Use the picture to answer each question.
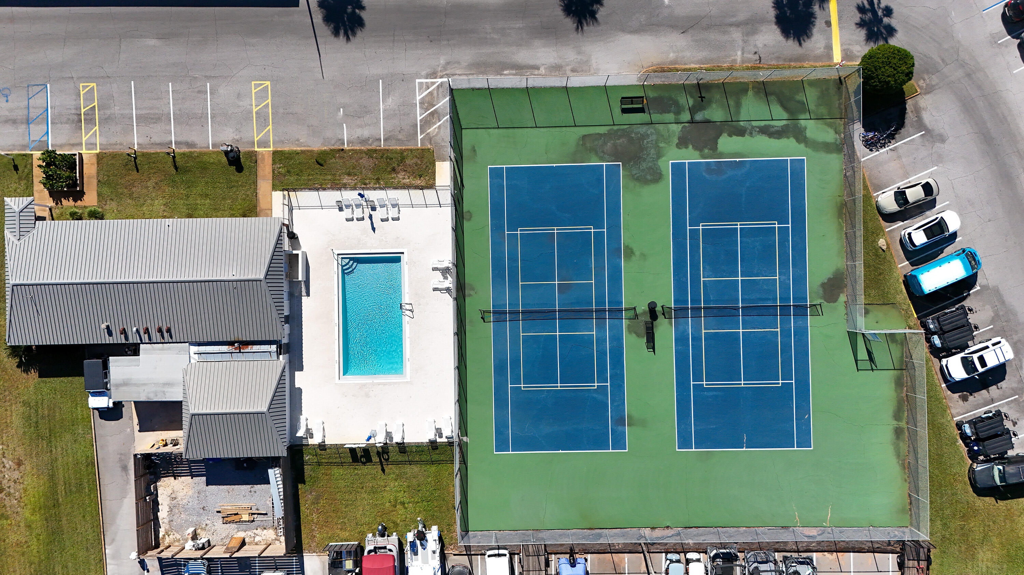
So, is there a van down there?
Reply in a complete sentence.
Yes, I can see a van in this picture.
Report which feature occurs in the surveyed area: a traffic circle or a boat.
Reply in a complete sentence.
Visible in the photo is a boat.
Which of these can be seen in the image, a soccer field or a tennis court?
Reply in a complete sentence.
I can see a tennis court in this picture.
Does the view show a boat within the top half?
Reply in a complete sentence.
No, I can find no boat within the top half.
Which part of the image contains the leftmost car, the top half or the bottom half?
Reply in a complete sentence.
It is in the bottom half that the leftmost car appears.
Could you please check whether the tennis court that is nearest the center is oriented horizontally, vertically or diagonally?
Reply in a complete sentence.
The tennis court that is nearest the center is oriented vertically.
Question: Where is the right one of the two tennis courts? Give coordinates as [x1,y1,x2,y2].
[670,156,813,452]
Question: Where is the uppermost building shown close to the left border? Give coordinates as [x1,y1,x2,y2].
[0,196,290,345]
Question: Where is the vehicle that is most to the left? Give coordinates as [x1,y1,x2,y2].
[82,357,116,410]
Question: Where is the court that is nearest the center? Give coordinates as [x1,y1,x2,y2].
[488,162,628,454]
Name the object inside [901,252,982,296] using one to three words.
van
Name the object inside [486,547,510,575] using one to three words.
vehicle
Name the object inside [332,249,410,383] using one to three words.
swimming pool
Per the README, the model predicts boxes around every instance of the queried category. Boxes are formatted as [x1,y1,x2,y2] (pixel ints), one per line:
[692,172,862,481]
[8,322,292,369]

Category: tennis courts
[670,156,813,452]
[488,162,628,454]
